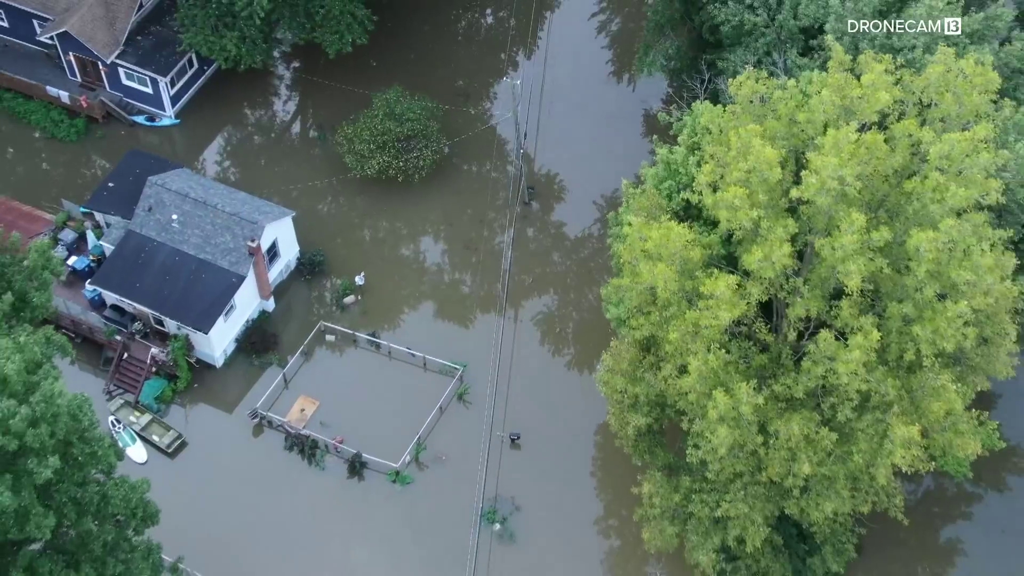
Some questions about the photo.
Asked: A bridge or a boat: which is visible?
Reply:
boat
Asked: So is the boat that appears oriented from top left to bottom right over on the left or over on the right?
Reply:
left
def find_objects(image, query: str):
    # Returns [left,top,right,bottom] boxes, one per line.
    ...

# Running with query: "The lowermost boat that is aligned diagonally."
[106,391,189,458]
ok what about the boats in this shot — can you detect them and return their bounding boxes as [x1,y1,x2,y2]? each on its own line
[129,114,180,125]
[106,391,189,458]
